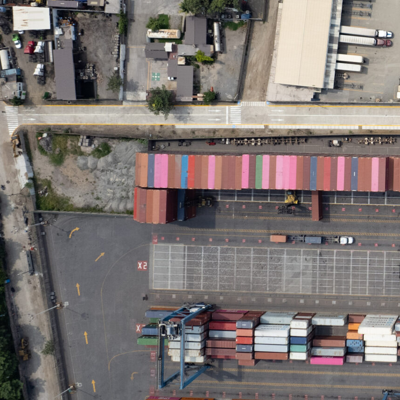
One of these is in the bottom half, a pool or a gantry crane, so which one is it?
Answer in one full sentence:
It is a gantry crane that can be seen in the bottom half.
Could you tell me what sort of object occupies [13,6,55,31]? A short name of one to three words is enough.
shed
